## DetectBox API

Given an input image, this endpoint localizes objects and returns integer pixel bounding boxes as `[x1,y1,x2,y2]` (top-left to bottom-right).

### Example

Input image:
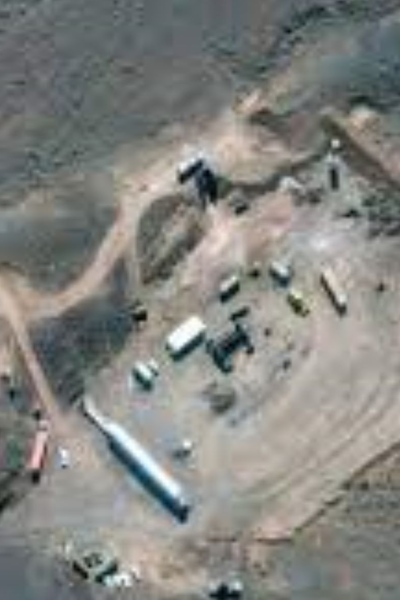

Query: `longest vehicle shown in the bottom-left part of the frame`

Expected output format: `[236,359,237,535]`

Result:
[31,422,49,468]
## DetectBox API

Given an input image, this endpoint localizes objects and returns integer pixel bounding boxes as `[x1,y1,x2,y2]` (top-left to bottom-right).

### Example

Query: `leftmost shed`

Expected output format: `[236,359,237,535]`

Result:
[75,544,114,583]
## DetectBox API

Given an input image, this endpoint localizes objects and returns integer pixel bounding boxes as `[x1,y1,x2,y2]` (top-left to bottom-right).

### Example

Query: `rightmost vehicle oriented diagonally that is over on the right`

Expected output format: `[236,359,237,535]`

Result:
[318,270,348,310]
